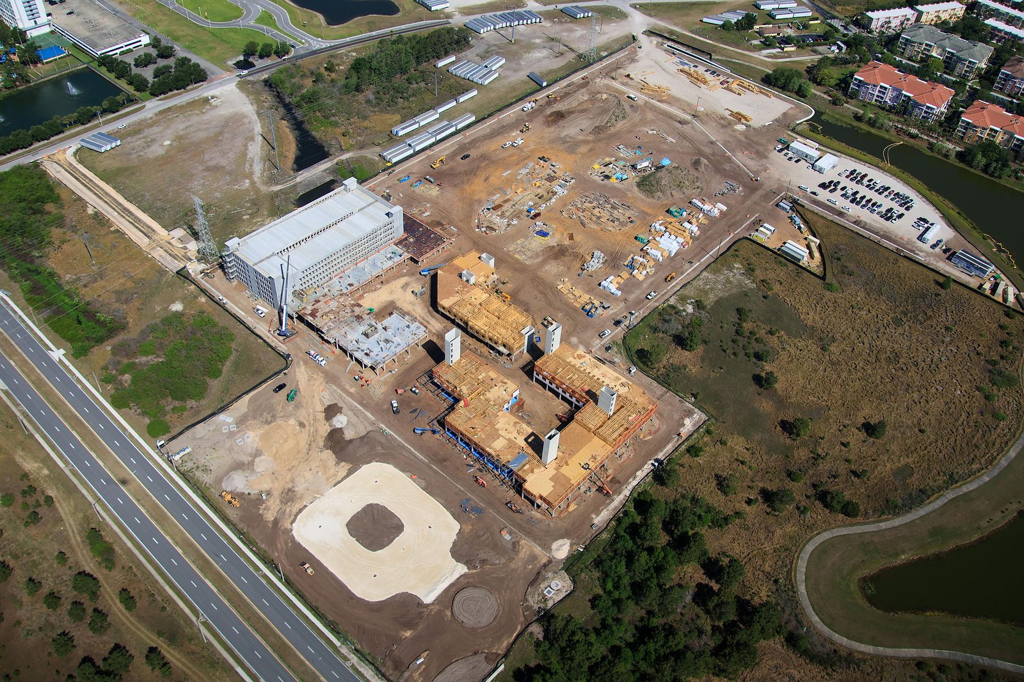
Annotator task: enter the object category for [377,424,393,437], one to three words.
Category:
vehicle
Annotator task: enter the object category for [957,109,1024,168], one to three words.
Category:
building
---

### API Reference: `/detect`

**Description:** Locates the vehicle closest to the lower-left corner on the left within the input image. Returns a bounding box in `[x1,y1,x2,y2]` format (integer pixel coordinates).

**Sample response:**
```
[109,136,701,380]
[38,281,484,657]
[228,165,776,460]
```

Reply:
[218,488,239,505]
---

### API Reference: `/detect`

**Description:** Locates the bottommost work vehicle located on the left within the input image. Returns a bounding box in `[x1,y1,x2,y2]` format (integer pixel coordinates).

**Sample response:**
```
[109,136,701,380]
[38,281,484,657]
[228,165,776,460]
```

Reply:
[295,558,314,574]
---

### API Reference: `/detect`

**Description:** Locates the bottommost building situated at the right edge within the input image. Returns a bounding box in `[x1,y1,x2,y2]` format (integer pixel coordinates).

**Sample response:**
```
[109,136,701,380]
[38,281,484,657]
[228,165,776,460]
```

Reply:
[952,245,997,278]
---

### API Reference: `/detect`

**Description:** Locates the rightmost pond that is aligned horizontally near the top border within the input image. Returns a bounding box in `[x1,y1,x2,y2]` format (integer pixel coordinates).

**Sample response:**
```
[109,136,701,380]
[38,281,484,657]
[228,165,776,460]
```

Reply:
[291,0,400,26]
